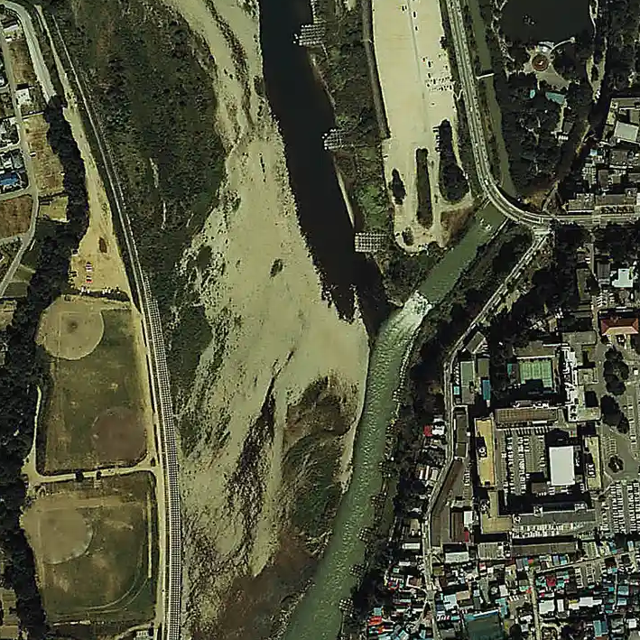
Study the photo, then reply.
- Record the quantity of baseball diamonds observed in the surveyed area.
two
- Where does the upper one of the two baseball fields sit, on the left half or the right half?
left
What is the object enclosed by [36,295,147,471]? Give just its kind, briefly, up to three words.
baseball field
